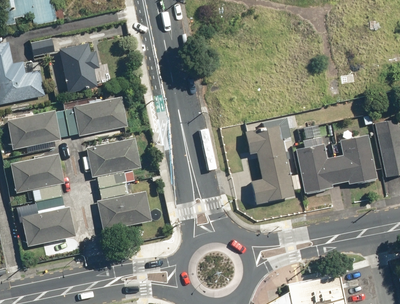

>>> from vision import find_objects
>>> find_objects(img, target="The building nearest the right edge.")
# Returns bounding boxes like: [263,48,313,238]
[375,120,400,176]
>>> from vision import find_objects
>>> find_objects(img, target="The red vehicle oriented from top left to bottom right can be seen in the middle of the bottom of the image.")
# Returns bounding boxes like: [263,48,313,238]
[230,240,246,253]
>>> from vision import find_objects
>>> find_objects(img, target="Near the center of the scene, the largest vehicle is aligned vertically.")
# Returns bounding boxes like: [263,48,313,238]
[199,128,216,170]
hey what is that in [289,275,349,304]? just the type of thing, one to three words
building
